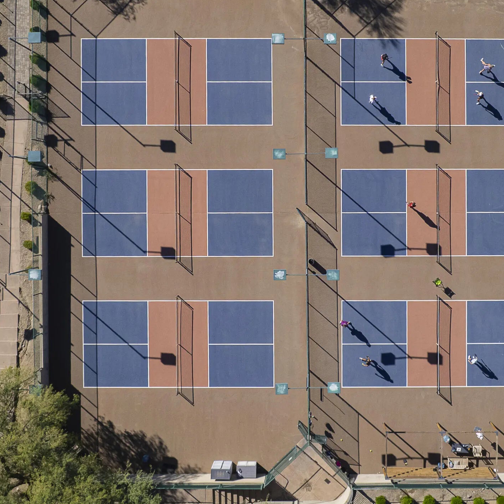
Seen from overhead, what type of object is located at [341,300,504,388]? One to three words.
sports court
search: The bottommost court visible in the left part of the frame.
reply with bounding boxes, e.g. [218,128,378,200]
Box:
[83,300,274,388]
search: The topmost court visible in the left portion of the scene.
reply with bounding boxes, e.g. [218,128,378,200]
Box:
[81,38,273,125]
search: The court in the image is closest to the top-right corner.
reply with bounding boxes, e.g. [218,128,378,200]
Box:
[340,38,504,125]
